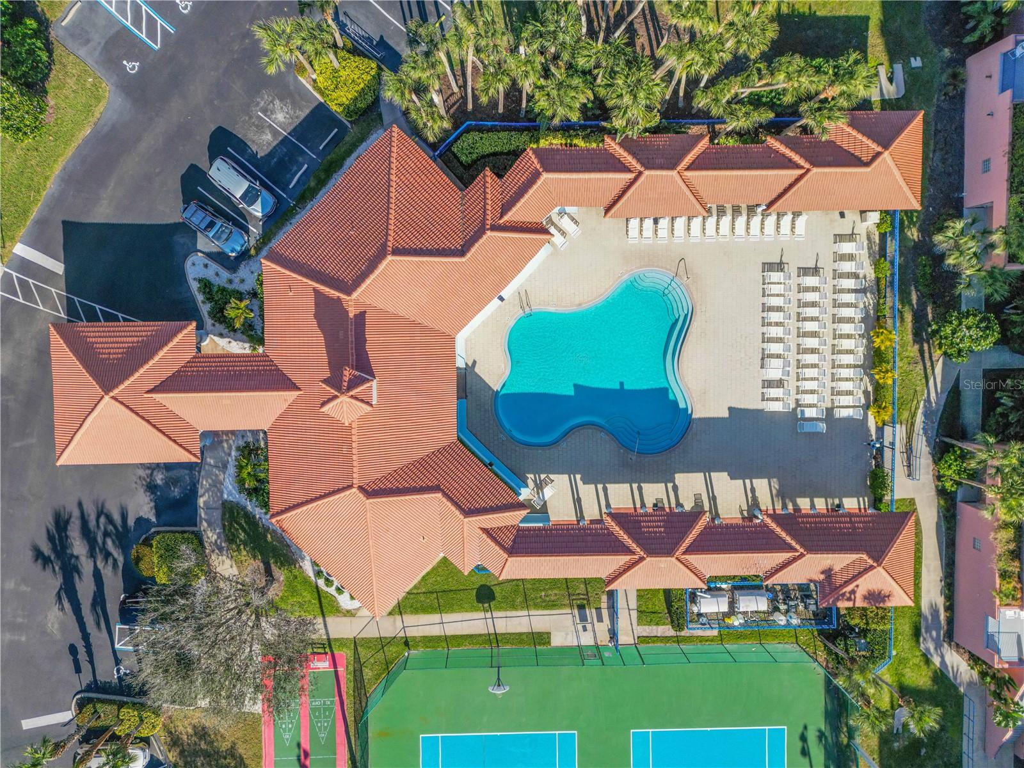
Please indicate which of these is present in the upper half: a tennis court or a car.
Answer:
car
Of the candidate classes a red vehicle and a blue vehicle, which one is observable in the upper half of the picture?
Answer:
blue vehicle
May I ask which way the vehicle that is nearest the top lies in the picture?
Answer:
at an angle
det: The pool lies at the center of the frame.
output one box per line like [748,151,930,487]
[489,264,699,459]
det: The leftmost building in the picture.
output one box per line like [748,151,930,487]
[261,125,554,621]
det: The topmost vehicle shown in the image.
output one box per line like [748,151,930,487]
[209,157,283,220]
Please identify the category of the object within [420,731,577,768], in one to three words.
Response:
tennis court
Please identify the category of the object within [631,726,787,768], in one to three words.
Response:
tennis court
